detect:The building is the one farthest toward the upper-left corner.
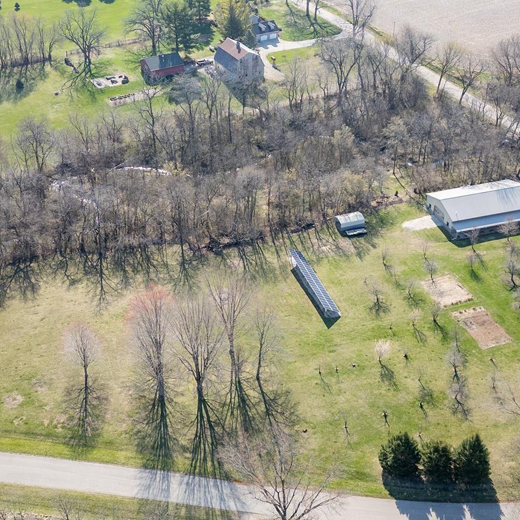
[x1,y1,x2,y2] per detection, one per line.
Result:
[142,54,186,80]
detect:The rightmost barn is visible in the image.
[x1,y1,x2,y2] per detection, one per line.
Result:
[424,180,520,246]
